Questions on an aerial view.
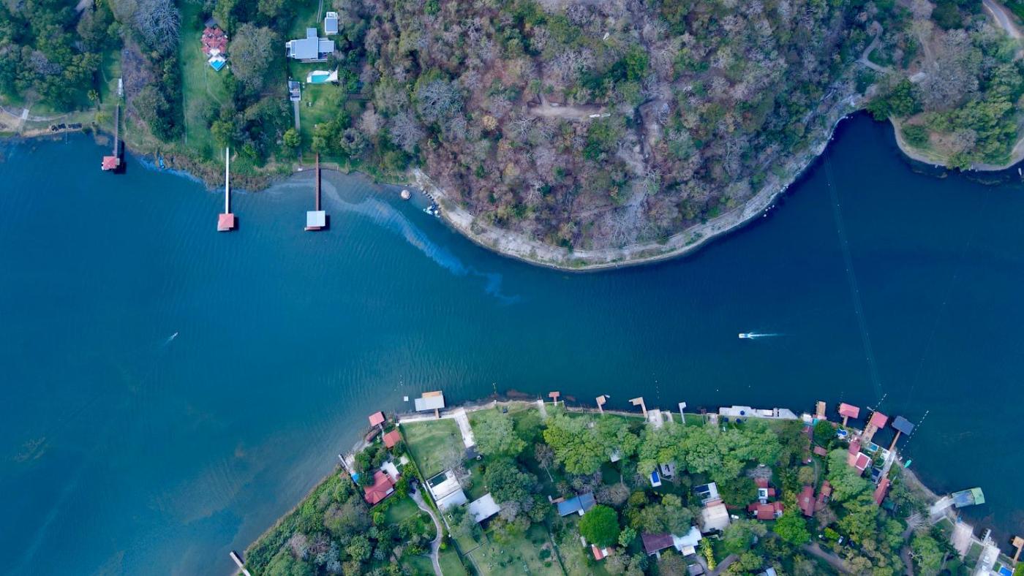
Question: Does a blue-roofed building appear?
Yes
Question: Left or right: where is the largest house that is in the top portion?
left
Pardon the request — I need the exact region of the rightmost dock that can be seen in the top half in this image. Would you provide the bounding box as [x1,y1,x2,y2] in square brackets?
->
[305,153,326,231]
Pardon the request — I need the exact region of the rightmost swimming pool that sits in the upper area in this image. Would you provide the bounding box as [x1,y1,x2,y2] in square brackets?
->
[307,66,338,83]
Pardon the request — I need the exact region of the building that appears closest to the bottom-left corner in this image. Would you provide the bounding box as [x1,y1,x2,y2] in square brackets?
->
[364,470,397,504]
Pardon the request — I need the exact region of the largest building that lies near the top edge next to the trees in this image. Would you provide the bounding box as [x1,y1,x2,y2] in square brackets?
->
[286,27,337,63]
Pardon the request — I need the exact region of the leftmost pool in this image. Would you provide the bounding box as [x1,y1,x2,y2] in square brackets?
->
[209,56,226,71]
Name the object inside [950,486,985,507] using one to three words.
building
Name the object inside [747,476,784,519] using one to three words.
house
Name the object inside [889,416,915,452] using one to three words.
pier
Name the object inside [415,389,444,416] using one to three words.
pier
